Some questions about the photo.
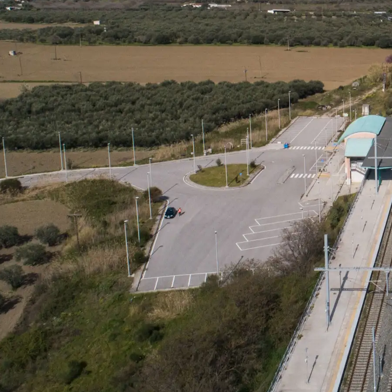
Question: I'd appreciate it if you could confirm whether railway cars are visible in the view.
No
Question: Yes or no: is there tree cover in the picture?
Yes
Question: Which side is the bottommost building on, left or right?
right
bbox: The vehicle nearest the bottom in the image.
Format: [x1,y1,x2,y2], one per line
[163,208,176,220]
